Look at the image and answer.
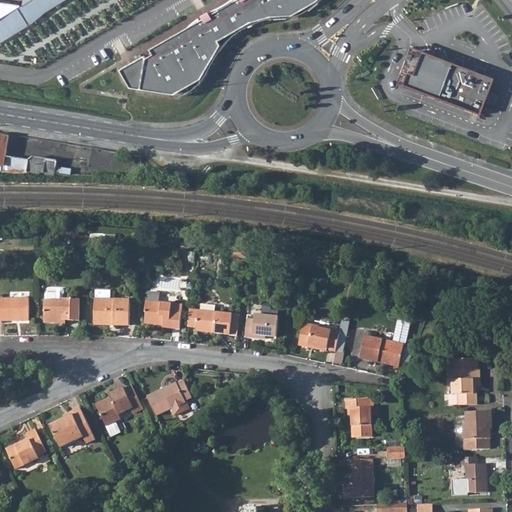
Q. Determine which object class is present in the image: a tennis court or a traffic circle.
traffic circle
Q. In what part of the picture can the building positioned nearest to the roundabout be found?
top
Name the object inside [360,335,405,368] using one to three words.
house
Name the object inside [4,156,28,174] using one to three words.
building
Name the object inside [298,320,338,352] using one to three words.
house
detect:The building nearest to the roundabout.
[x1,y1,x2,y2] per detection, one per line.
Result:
[118,0,318,94]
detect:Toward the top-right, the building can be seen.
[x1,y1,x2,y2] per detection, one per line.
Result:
[396,46,494,117]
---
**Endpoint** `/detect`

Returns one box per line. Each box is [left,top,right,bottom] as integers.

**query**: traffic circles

[224,36,340,152]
